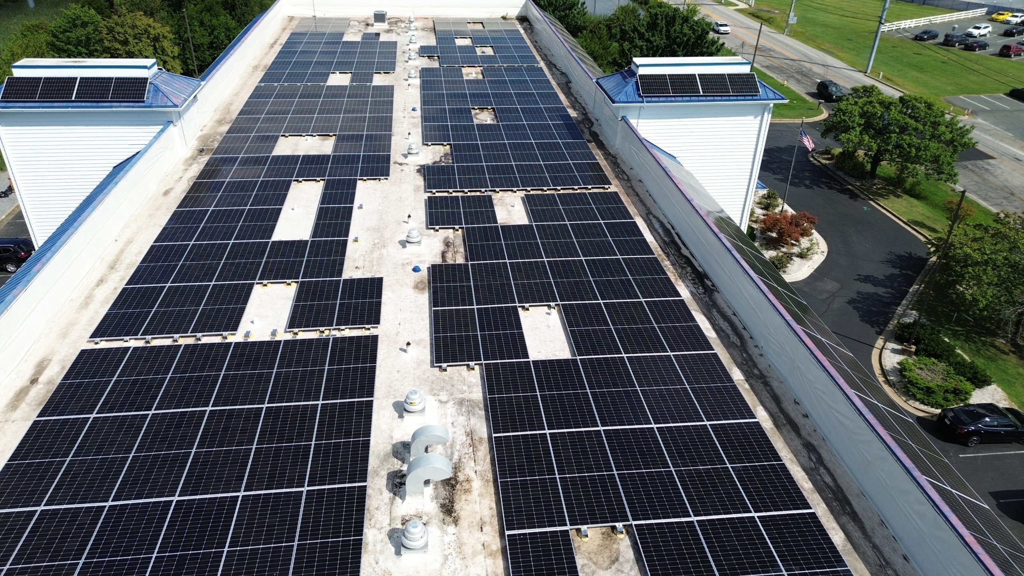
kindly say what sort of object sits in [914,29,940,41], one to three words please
vehicle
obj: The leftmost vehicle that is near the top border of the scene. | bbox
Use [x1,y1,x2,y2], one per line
[710,20,732,33]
